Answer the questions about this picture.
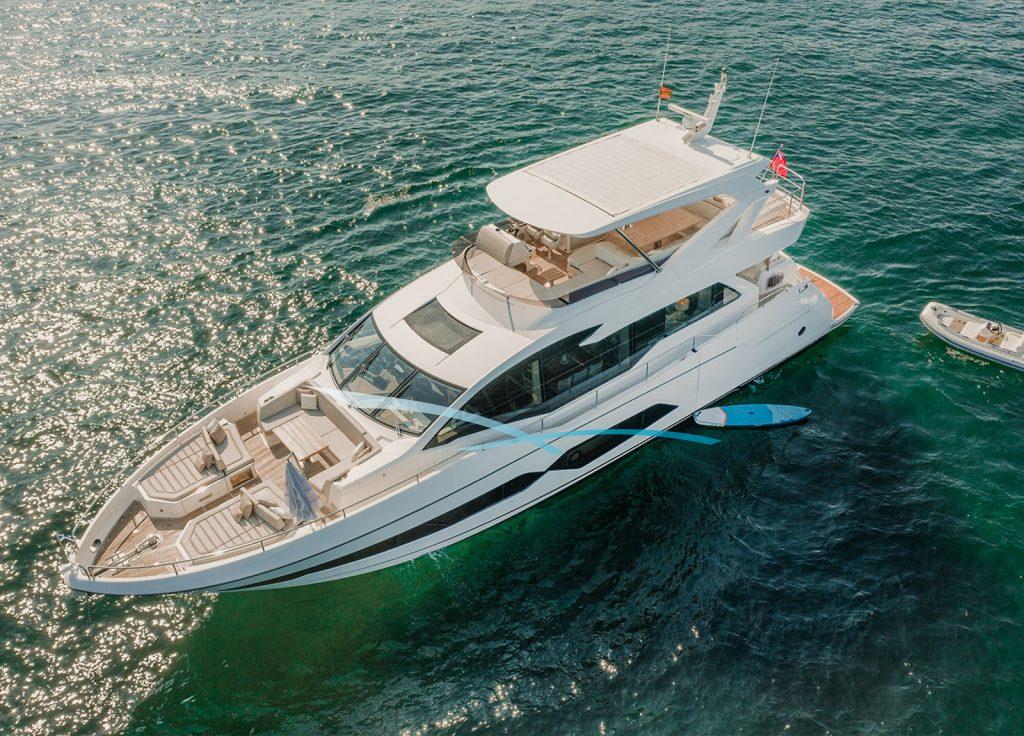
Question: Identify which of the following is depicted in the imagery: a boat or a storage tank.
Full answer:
I can see a boat in this picture.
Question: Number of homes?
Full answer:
The photo contains no homes.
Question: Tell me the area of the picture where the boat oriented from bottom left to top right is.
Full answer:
The boat oriented from bottom left to top right is located in the center region of the scene.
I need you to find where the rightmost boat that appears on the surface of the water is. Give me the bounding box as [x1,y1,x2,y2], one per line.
[920,303,1024,376]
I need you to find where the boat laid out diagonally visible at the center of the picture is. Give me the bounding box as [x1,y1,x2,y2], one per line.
[56,36,859,596]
